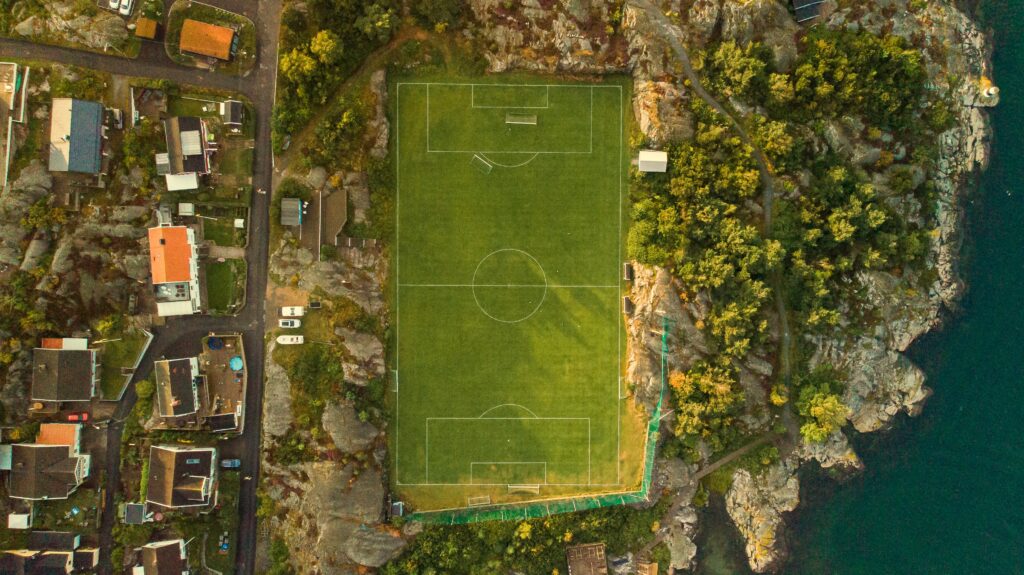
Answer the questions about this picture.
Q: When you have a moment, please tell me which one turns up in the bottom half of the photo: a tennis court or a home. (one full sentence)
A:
What appears in the bottom half of the photo is a home.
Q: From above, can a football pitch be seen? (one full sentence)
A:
Yes, a football pitch can be made out from above.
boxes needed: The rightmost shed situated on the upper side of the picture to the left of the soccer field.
[281,198,304,225]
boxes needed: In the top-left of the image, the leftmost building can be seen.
[49,96,110,176]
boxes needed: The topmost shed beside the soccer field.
[637,151,668,173]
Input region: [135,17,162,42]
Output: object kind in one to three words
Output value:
shed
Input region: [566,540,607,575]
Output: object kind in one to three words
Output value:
building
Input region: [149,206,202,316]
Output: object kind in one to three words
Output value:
house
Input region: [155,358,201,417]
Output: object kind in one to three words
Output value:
house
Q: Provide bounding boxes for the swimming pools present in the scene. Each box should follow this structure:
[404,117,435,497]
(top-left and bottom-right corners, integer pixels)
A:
[227,356,244,371]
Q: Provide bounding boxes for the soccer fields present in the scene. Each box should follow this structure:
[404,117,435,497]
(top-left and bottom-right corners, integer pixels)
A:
[386,74,648,513]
